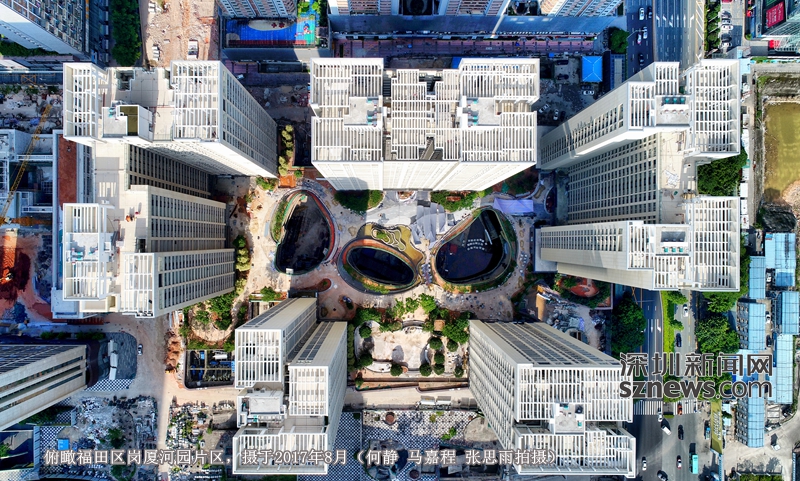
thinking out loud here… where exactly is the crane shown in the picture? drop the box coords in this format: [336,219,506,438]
[0,100,65,226]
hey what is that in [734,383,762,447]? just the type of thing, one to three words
shed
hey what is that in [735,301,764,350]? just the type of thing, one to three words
shed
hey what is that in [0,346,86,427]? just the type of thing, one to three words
building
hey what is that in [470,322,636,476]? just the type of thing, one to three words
building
